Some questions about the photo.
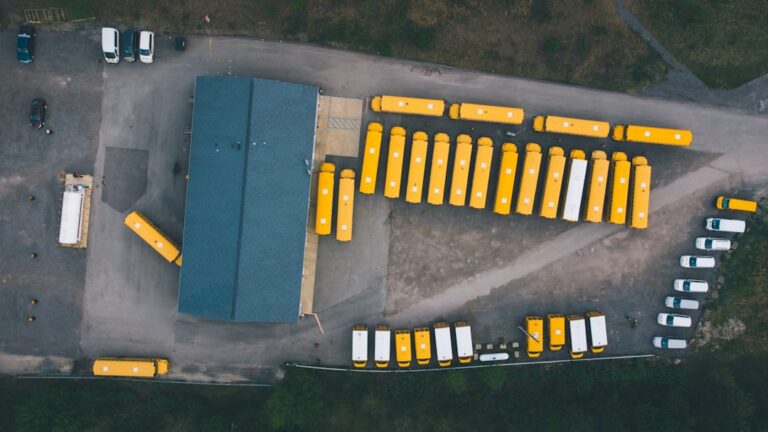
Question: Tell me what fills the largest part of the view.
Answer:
paved ground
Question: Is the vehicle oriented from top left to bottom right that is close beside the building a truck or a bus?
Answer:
bus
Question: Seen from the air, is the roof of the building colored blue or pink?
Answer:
blue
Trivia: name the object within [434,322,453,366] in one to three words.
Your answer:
vehicle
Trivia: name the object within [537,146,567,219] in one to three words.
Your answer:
bus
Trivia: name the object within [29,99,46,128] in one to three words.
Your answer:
car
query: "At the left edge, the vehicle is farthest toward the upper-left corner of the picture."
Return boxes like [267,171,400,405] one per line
[17,28,35,63]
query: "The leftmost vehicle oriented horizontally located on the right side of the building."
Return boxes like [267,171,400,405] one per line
[370,96,445,118]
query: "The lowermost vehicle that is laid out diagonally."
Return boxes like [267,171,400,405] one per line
[125,210,182,268]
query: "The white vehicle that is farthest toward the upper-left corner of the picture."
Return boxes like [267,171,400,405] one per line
[104,28,122,64]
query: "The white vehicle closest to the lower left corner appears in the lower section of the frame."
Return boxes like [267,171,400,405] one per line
[352,326,368,368]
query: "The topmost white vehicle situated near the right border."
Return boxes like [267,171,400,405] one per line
[704,218,746,232]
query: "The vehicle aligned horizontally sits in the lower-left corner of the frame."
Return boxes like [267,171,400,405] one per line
[92,356,171,377]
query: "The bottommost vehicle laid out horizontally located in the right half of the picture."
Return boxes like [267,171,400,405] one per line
[652,335,686,350]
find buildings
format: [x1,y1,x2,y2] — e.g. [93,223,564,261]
[178,76,320,322]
